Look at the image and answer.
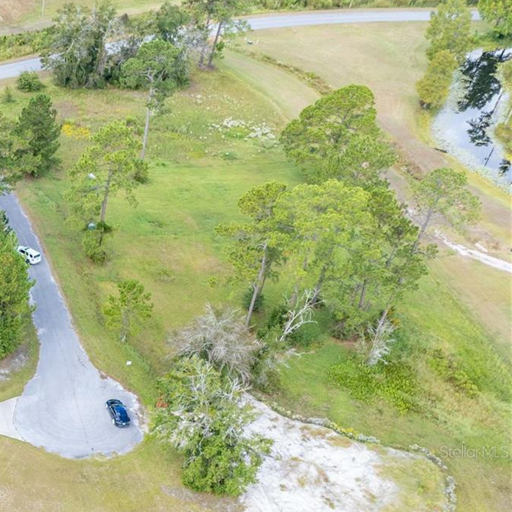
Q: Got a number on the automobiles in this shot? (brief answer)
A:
two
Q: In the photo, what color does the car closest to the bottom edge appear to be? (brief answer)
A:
blue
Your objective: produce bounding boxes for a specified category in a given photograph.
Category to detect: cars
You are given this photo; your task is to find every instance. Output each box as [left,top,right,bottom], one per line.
[104,400,134,428]
[19,246,44,267]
